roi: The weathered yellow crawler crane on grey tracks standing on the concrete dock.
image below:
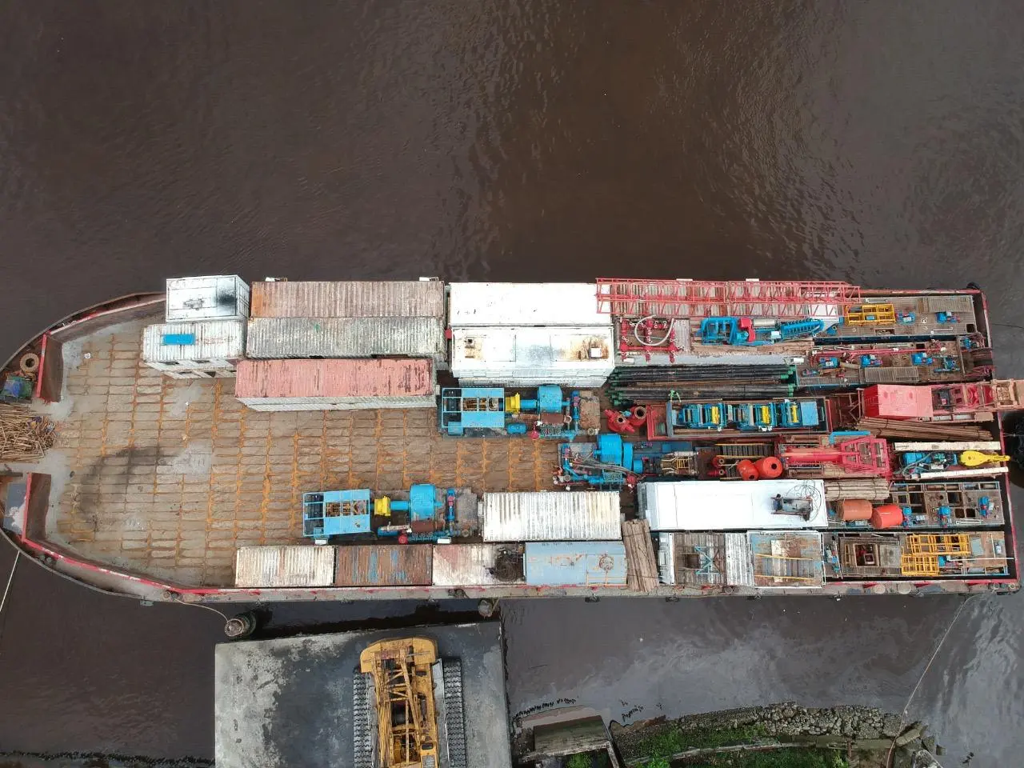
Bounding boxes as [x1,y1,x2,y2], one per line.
[356,637,467,768]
